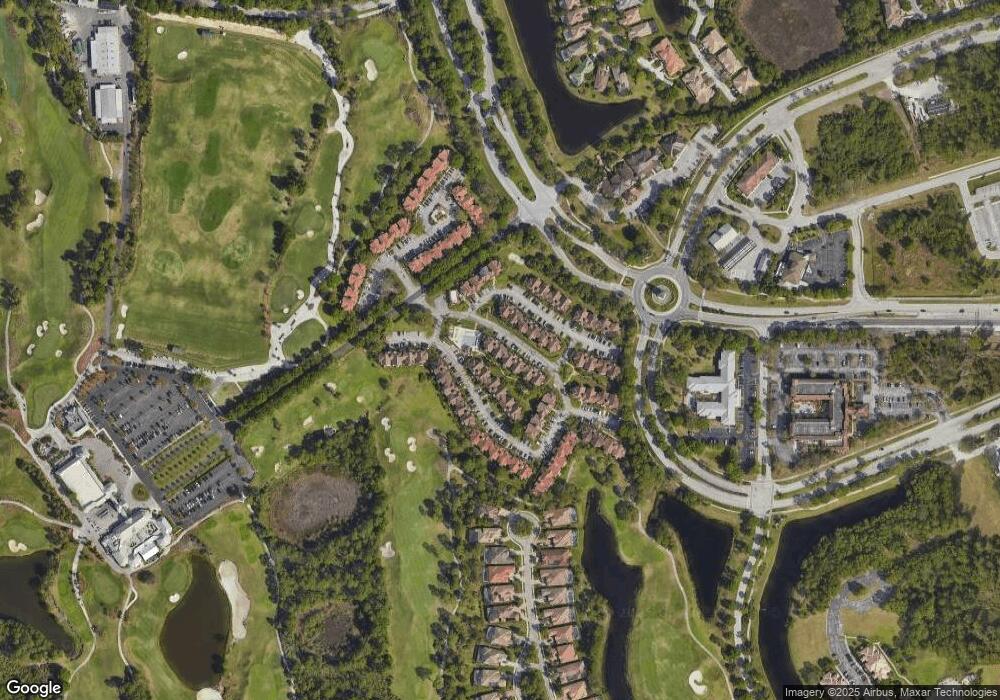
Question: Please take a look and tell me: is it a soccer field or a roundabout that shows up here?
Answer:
roundabout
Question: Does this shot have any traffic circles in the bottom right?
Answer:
No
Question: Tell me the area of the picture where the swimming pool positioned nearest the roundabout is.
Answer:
center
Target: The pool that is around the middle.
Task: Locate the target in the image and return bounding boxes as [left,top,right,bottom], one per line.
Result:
[454,326,479,350]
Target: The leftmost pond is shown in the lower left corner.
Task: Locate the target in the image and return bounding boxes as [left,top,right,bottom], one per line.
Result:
[0,548,78,659]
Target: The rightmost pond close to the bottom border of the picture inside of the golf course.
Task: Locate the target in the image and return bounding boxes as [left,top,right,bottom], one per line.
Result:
[158,555,231,692]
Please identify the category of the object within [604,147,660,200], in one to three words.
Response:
building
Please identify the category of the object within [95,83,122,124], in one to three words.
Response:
shed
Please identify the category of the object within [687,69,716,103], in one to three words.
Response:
house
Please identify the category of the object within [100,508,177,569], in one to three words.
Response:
building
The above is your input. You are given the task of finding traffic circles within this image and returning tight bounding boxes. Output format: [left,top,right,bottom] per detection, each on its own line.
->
[633,266,690,323]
